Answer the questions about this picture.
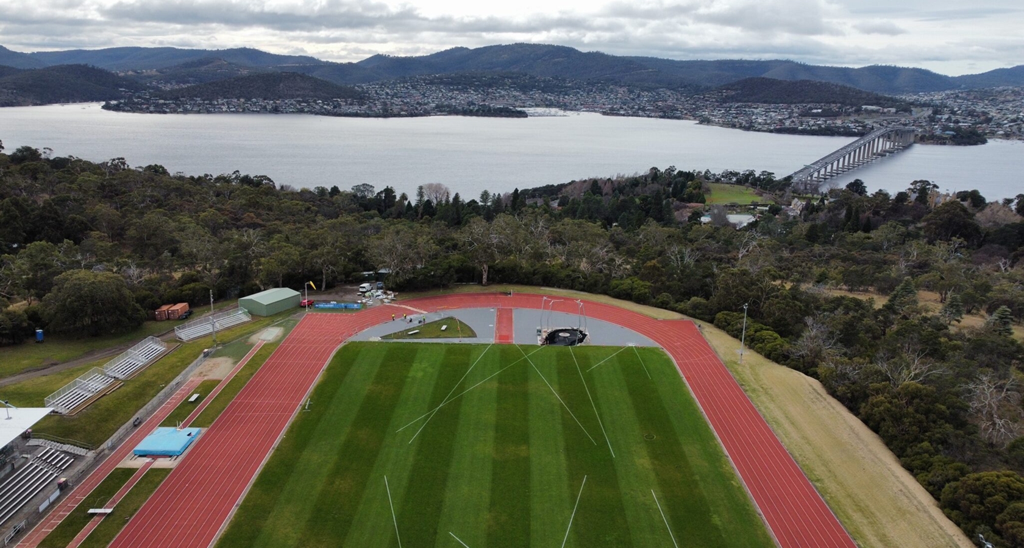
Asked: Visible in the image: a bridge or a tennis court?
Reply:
bridge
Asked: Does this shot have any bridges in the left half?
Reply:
No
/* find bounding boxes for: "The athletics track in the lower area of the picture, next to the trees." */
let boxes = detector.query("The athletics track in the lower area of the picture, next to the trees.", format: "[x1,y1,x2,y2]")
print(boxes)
[108,294,857,548]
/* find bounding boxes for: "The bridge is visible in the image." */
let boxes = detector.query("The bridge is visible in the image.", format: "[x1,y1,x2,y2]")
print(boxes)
[774,129,938,187]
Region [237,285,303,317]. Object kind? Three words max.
shed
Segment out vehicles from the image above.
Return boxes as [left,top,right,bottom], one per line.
[302,298,317,306]
[357,280,375,290]
[378,278,389,287]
